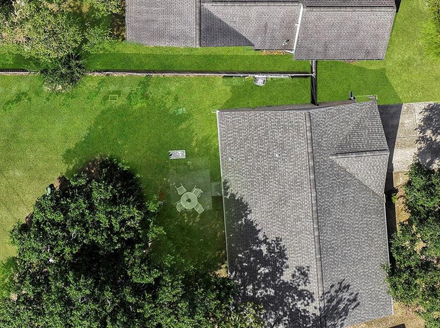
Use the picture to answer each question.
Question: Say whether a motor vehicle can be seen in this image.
No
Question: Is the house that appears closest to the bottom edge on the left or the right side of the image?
right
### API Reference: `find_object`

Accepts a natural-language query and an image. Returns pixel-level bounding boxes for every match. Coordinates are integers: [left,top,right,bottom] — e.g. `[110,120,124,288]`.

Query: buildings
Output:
[123,0,397,62]
[211,97,395,328]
